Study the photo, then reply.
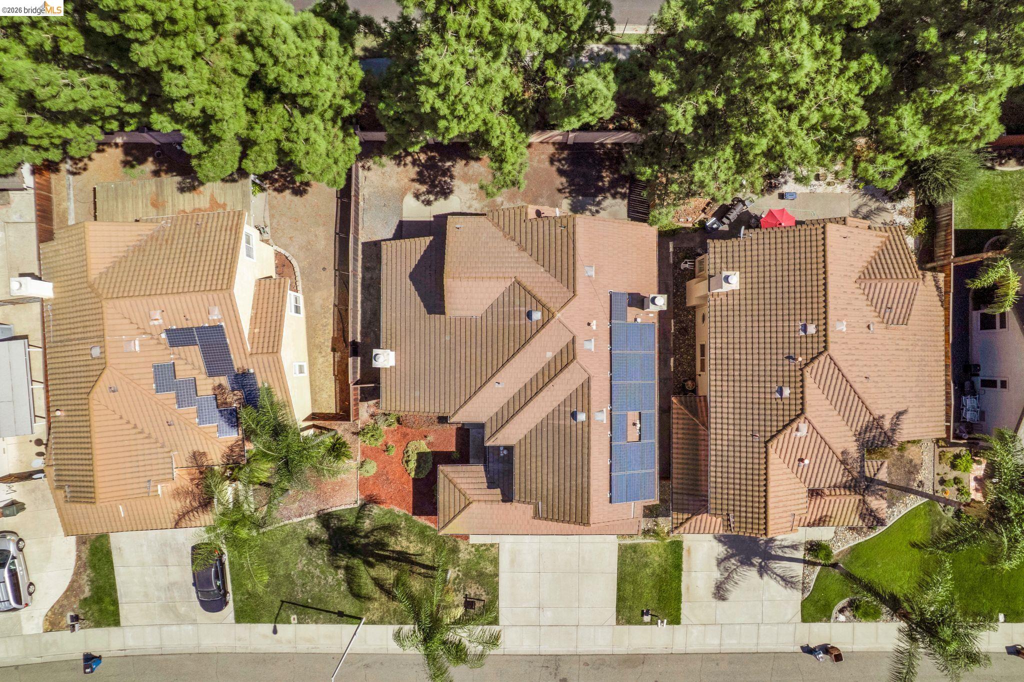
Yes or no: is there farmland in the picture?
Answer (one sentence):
No, the picture contains no farmland.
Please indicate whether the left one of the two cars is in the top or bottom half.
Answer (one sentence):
The bottom half of the photo is where the left one of the two cars is.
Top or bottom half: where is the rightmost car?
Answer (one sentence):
Seen from above, the rightmost car lies in the bottom half of the view.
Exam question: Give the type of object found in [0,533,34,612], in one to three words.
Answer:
car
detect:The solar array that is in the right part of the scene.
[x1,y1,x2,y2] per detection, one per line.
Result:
[607,292,655,503]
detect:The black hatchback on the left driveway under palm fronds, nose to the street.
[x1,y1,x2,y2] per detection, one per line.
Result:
[190,544,229,614]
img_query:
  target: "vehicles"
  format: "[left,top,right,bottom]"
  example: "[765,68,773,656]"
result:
[0,533,34,612]
[190,544,229,614]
